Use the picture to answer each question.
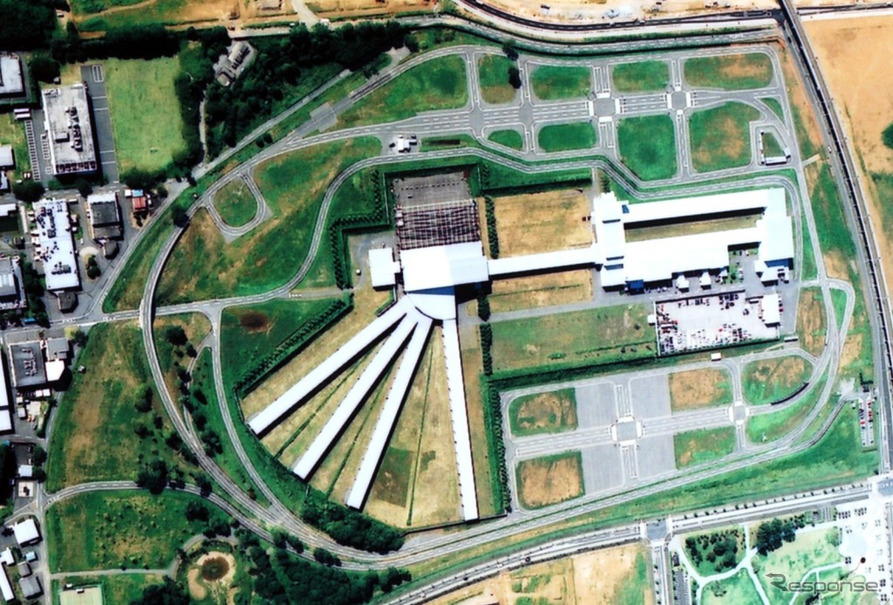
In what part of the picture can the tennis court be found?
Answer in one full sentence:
You can find the tennis court in the bottom left area of the picture.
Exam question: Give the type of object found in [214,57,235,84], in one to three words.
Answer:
house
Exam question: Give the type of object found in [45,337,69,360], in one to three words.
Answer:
building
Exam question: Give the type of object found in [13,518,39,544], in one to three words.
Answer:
shed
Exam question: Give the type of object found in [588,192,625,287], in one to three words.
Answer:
building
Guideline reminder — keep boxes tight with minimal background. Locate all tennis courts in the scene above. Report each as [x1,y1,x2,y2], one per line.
[58,582,104,605]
